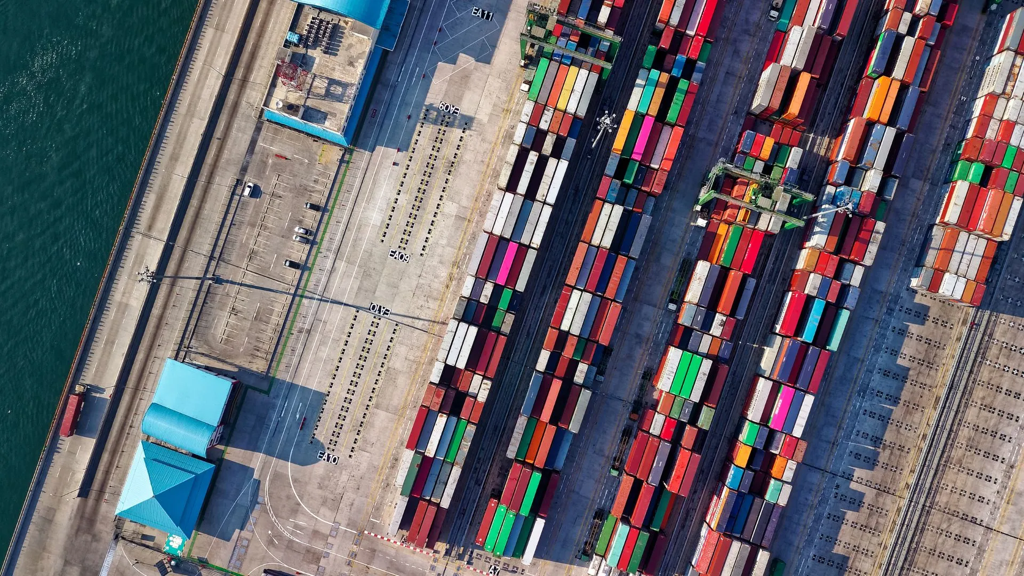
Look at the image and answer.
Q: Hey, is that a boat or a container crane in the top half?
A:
container crane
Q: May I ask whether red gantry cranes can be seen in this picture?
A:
No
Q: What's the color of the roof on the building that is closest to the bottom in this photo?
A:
blue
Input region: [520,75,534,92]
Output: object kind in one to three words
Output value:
vehicle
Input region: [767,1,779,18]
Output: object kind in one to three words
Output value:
vehicle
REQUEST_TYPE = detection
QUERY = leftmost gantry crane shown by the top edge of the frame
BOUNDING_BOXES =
[514,1,628,97]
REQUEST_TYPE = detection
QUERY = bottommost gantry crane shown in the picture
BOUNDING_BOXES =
[689,156,821,236]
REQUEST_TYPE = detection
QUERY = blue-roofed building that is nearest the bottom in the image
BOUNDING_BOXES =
[115,440,218,540]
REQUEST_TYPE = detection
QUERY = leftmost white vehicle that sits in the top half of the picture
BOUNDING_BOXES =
[243,181,255,199]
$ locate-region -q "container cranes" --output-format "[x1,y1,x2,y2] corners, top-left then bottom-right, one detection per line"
[689,156,821,236]
[514,1,628,97]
